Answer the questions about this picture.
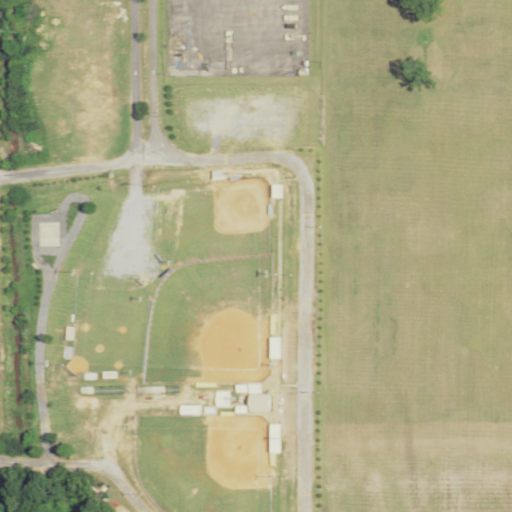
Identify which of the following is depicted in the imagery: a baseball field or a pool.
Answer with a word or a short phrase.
baseball field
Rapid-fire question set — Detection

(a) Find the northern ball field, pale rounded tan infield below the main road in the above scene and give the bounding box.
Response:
[166,178,271,265]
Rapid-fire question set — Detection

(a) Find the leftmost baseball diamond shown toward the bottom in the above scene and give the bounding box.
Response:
[66,276,148,376]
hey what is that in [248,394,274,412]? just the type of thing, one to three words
building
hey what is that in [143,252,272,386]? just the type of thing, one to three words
baseball field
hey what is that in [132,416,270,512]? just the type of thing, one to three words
baseball field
